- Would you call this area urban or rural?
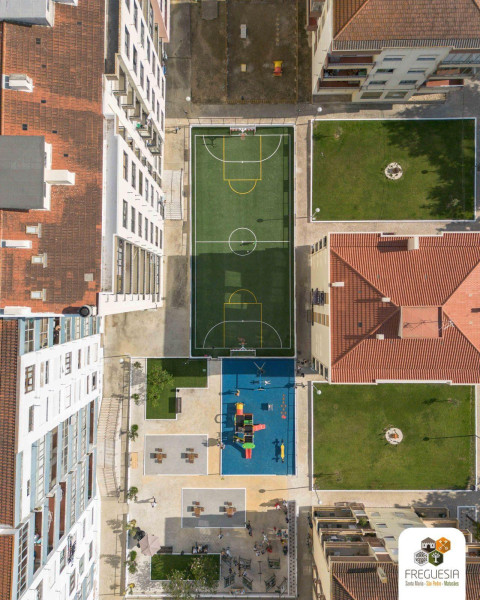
urban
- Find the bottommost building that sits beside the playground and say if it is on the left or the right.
right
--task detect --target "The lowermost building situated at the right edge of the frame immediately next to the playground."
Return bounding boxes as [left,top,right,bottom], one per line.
[311,504,480,600]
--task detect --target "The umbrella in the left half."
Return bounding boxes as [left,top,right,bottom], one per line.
[135,538,156,563]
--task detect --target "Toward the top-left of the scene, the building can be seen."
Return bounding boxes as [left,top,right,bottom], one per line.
[0,0,171,316]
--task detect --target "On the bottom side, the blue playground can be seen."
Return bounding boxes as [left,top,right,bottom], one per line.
[221,358,295,475]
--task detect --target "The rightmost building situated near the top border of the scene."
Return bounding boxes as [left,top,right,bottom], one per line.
[311,0,480,116]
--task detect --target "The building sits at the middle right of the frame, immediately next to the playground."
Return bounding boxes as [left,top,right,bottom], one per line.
[312,229,480,387]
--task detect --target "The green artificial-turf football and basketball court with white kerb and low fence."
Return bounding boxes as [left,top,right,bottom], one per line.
[190,123,295,358]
